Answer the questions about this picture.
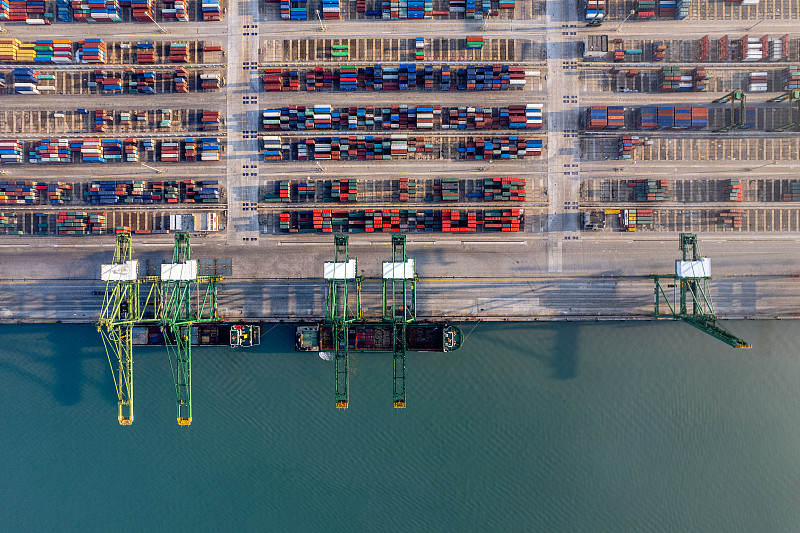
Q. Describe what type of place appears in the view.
port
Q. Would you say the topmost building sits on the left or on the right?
right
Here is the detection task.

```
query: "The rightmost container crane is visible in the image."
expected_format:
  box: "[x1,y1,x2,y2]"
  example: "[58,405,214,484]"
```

[765,91,800,134]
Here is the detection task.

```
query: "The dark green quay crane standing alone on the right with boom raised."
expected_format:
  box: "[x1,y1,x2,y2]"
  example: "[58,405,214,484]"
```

[644,235,751,352]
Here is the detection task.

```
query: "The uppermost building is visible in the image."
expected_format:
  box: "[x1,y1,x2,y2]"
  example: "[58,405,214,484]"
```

[582,35,609,58]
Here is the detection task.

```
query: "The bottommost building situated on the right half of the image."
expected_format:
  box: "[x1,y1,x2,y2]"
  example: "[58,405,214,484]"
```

[579,209,605,229]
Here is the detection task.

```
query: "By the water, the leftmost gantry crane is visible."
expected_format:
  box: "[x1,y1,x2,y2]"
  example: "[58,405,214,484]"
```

[99,238,171,425]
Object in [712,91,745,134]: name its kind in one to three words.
container crane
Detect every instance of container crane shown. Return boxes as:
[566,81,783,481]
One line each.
[99,238,171,425]
[712,91,745,134]
[163,237,225,425]
[644,235,751,352]
[324,237,366,410]
[765,91,800,134]
[380,237,419,410]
